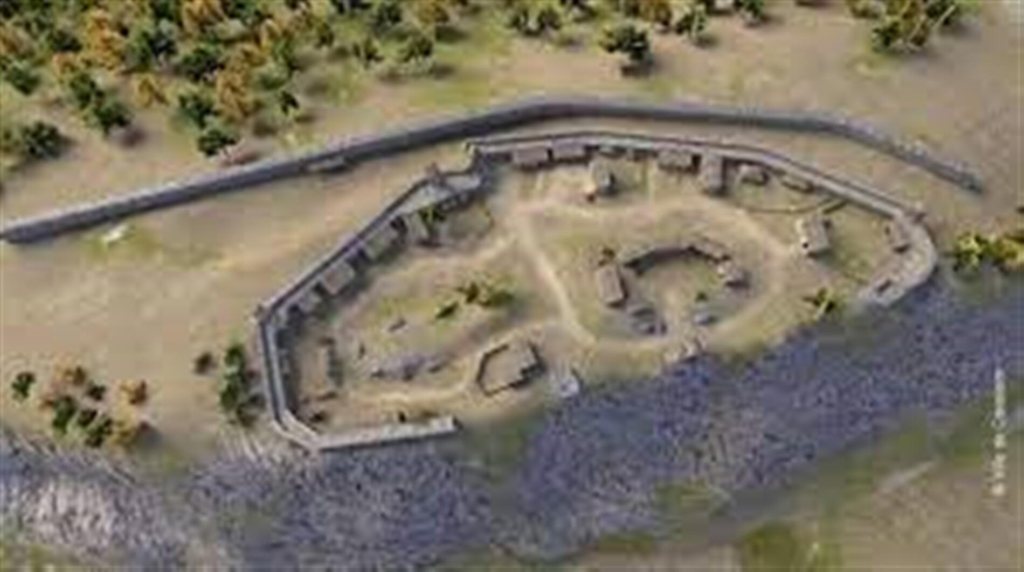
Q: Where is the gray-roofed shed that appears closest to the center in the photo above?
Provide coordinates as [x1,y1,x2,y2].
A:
[509,342,542,371]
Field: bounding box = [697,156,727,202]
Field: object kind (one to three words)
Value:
house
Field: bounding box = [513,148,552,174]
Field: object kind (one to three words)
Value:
house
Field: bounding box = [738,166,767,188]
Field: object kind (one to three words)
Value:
shed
